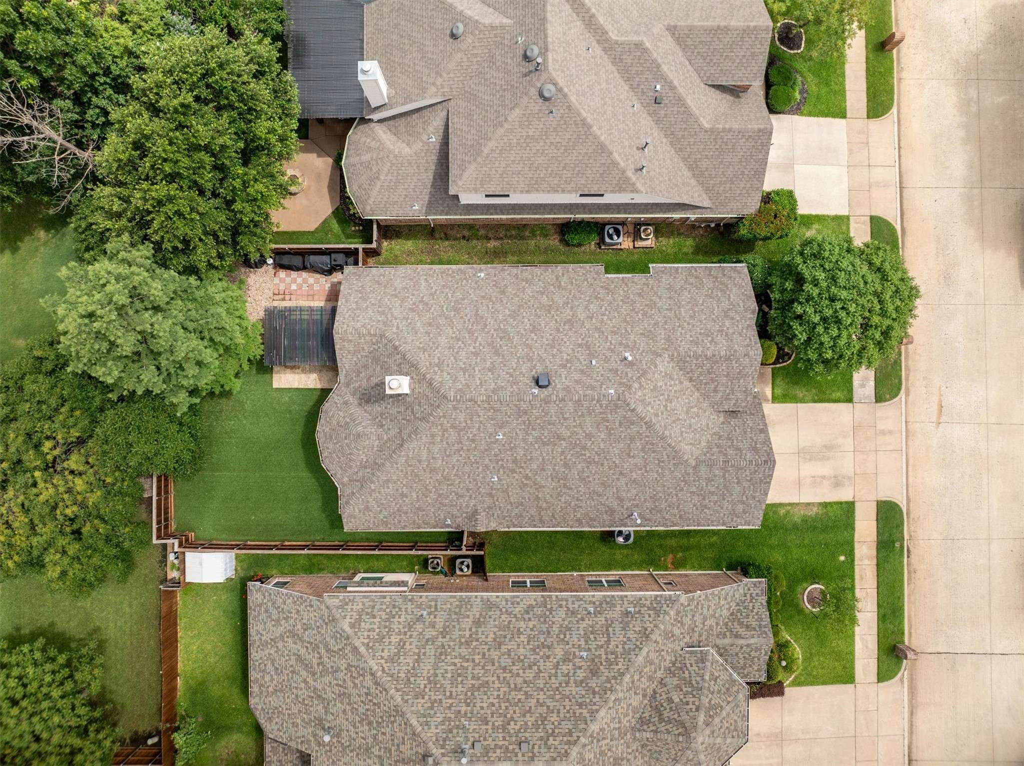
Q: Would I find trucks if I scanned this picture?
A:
No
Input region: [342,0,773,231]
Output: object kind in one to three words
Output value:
house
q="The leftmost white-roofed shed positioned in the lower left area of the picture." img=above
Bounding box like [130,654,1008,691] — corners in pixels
[185,553,238,584]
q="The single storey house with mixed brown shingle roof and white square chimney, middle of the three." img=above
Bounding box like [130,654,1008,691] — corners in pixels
[315,264,776,533]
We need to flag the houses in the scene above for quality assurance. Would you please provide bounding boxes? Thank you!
[342,0,773,231]
[315,264,776,533]
[247,564,773,766]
